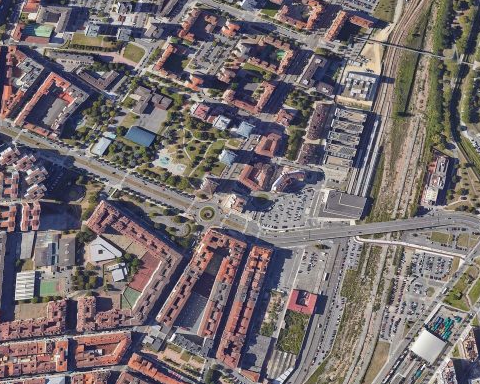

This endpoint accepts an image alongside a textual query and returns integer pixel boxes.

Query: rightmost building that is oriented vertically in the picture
[463,328,479,363]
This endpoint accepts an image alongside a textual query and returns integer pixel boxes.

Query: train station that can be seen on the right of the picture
[323,189,366,221]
